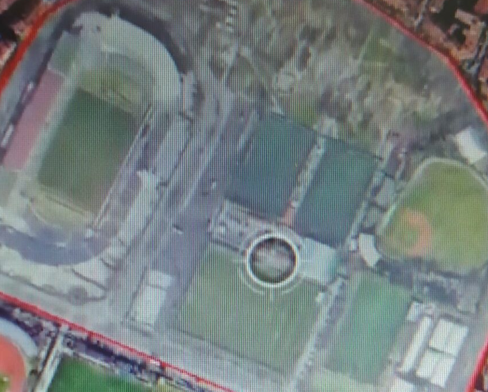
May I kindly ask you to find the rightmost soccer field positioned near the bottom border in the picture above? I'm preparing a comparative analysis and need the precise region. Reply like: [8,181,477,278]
[325,270,410,381]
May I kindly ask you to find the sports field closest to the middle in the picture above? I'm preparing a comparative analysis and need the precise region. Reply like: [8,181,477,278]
[222,114,318,215]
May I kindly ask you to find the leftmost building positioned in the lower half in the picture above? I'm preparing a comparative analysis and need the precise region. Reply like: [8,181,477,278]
[133,272,172,328]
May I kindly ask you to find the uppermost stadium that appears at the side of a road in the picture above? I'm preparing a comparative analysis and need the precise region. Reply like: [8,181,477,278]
[0,12,184,289]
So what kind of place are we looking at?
sports ground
